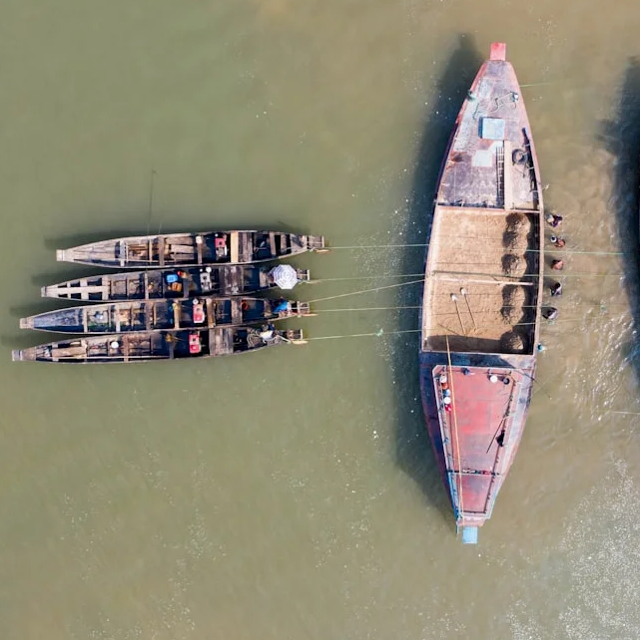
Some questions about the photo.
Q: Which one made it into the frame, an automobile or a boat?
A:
boat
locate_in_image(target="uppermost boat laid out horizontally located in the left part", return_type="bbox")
[56,230,329,268]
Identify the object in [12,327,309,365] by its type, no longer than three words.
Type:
boat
